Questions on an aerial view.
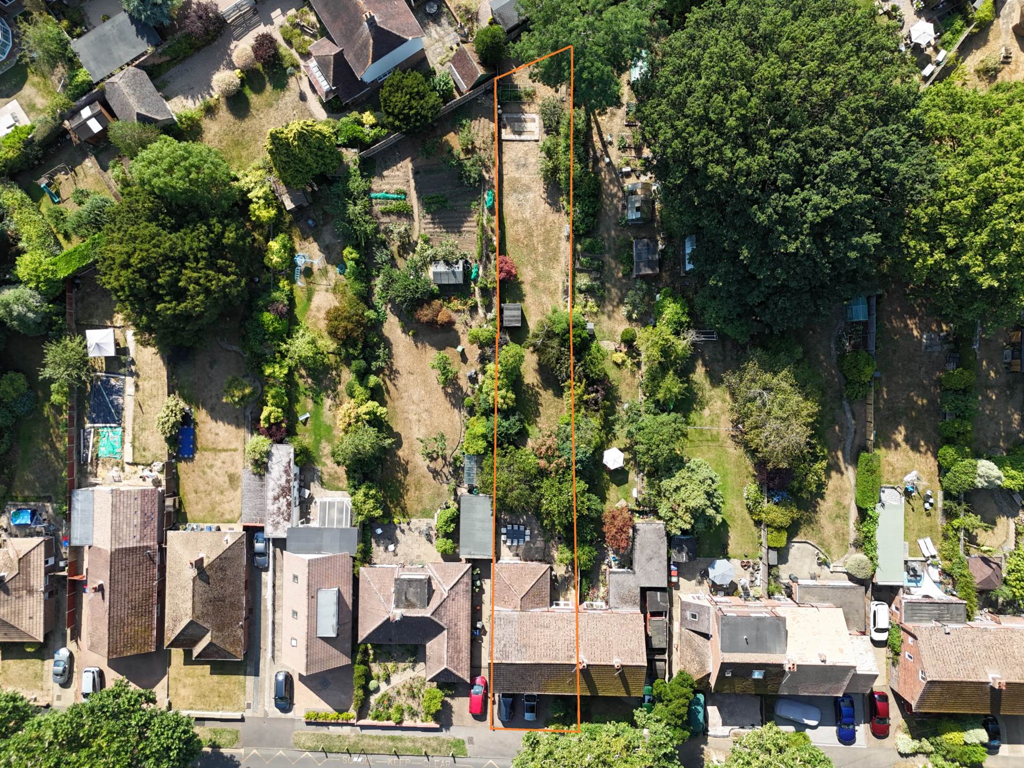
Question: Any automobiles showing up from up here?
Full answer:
Yes, there's an automobile down there.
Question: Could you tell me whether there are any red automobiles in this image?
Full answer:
Yes, a red automobile is visible in the scene.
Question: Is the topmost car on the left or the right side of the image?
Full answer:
It is on the left.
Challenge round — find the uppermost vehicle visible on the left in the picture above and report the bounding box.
[250,530,271,570]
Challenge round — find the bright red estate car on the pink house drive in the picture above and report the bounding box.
[468,674,488,716]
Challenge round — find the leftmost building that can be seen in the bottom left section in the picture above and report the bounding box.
[0,535,58,642]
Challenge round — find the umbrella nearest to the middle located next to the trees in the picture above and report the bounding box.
[603,446,624,470]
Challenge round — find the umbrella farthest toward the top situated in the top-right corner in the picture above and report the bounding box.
[907,19,935,46]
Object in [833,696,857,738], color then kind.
blue car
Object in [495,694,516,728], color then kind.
black car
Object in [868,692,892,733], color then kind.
red car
